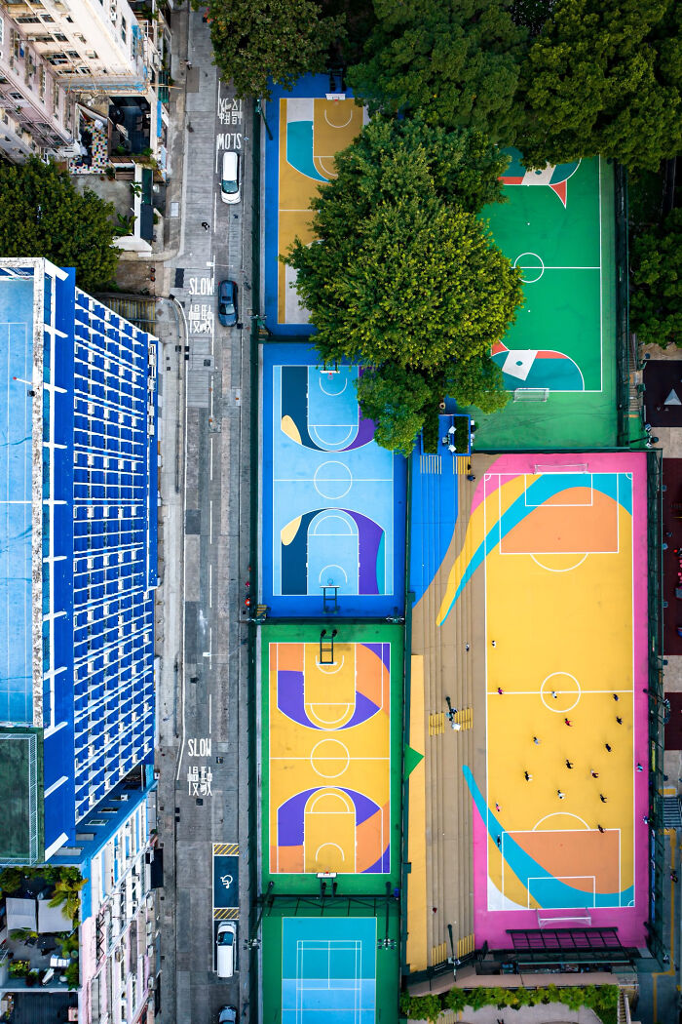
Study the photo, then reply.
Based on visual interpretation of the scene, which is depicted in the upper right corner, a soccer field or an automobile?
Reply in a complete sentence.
The one visible in the upper right corner is a soccer field.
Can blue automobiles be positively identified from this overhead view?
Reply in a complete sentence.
Yes, you can see a blue automobile in this photo.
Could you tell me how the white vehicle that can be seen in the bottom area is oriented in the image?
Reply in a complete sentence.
In this picture, the white vehicle that can be seen in the bottom area is oriented from top to bottom.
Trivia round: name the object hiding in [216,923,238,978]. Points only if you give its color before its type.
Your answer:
white vehicle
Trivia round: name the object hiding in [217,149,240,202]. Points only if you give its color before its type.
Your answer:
white car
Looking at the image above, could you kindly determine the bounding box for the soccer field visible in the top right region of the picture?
[417,107,615,448]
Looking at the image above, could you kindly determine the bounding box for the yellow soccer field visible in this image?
[474,454,647,949]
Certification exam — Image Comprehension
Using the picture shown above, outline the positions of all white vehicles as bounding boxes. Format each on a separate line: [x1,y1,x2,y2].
[217,149,240,202]
[216,923,238,978]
